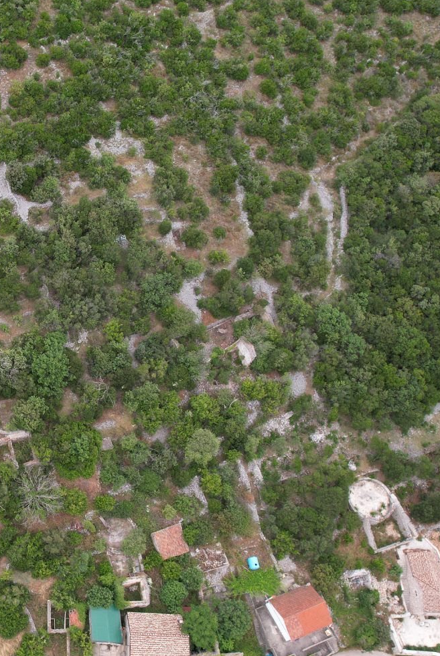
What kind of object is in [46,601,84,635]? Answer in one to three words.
shed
